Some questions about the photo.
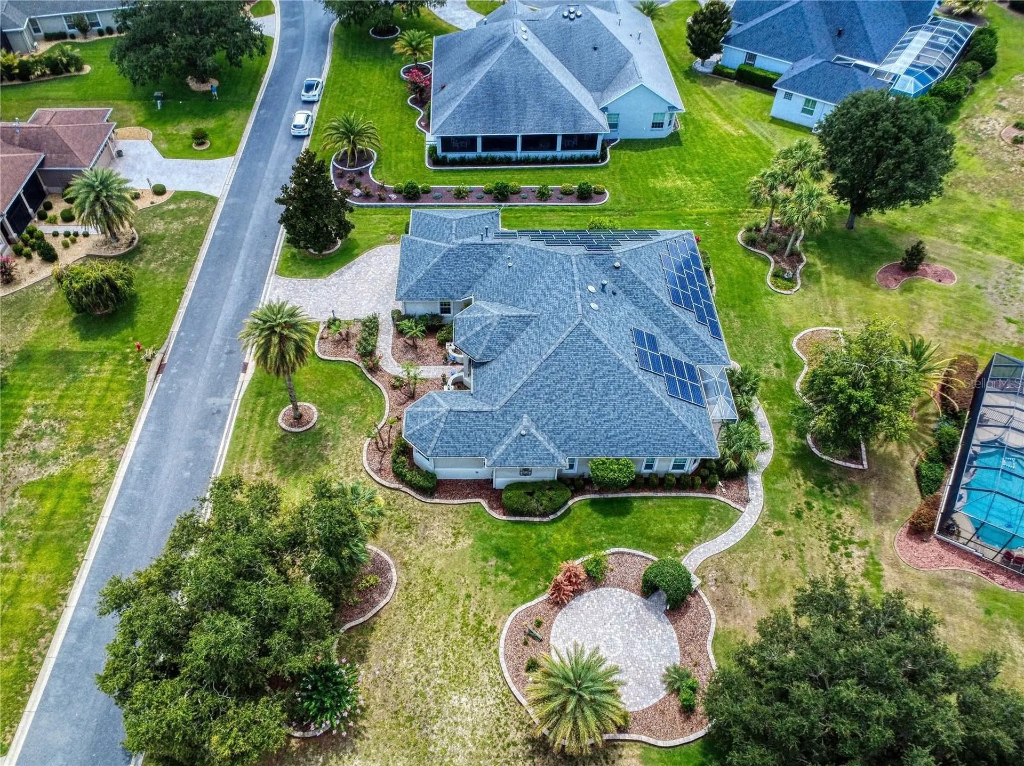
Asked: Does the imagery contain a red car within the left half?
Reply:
No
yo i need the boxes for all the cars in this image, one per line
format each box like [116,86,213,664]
[289,109,313,136]
[297,77,321,102]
